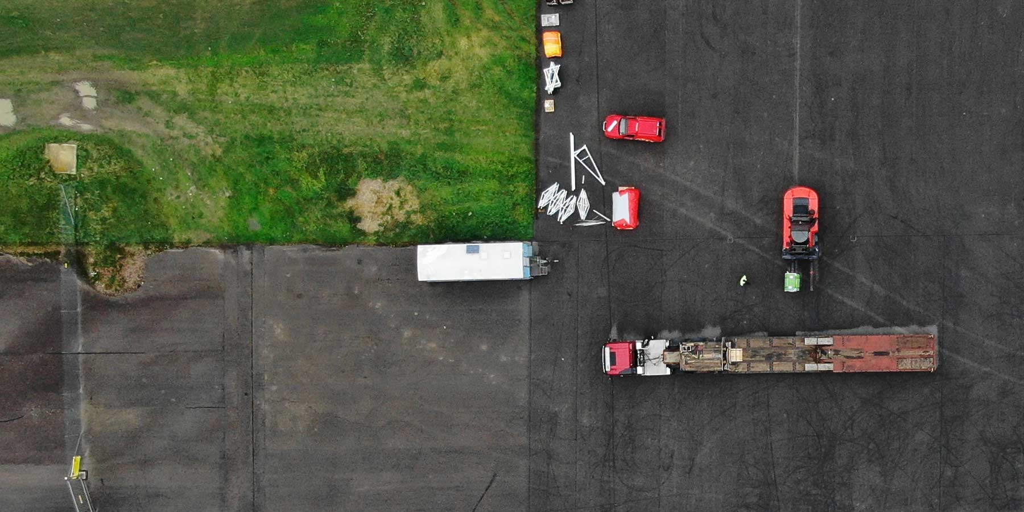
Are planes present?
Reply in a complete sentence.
No, I can't see a single plane in this photo.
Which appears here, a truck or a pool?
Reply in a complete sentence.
I can see a truck in this picture.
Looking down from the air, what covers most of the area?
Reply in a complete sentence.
The bulk of the photo consists of paved ground.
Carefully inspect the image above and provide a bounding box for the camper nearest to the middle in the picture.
[417,242,561,286]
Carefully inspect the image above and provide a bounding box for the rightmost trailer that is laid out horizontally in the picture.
[663,335,936,373]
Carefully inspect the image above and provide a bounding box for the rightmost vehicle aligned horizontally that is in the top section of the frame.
[605,114,666,144]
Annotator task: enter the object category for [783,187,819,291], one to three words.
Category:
work vehicle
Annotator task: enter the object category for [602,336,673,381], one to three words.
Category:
truck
